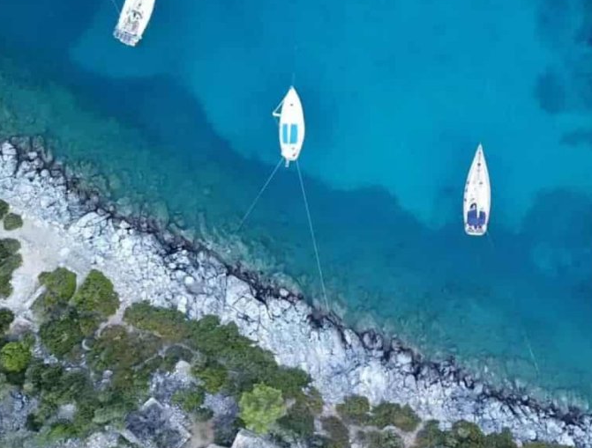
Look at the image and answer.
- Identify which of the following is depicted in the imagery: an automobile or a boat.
boat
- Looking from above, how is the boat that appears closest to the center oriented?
from top to bottom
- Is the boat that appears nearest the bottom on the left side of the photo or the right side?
right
